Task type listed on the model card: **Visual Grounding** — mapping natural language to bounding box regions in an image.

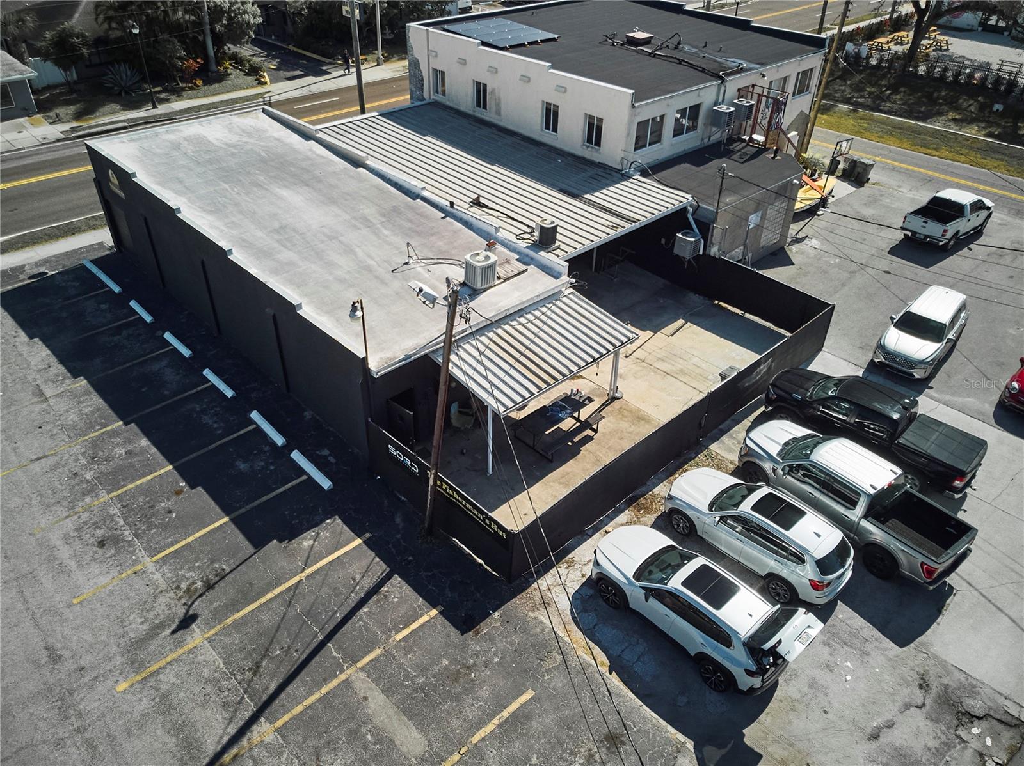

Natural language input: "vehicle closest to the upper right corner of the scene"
[897,184,1000,246]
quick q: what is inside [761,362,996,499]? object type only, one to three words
truck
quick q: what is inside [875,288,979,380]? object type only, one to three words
car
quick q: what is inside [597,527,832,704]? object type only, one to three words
car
